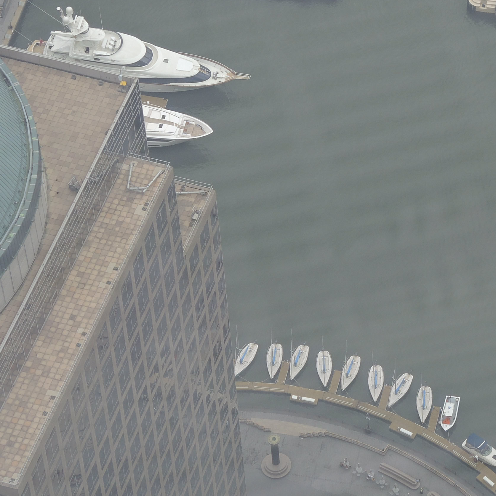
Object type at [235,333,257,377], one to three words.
boat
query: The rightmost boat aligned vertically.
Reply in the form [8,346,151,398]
[439,396,459,433]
